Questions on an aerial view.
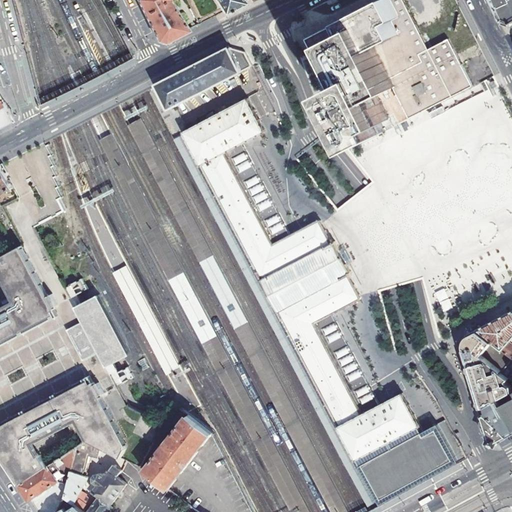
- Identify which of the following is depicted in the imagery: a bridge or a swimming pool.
bridge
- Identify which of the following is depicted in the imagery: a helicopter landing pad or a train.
train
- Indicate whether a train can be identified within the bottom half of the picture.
Yes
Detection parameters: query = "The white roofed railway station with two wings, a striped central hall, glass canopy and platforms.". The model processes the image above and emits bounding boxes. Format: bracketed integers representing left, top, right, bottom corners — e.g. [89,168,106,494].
[85,99,418,512]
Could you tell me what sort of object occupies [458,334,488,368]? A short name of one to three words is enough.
building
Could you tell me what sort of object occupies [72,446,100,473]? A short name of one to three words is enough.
house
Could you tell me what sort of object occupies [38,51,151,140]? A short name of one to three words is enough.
bridge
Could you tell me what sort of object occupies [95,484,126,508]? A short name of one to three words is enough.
house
